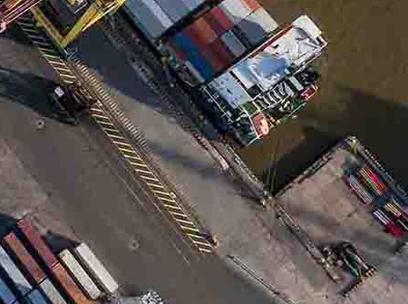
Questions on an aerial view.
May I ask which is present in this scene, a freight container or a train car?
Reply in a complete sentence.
I can see a freight container in this picture.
